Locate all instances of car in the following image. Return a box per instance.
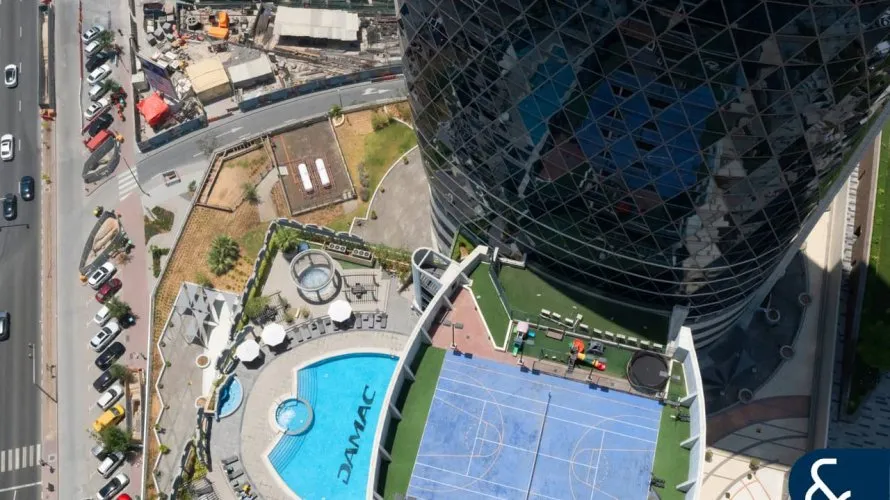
[91,369,114,395]
[84,128,112,151]
[95,454,125,480]
[82,35,106,58]
[20,176,35,203]
[4,64,18,87]
[81,23,103,44]
[95,343,124,370]
[89,324,119,349]
[3,195,17,221]
[0,136,15,161]
[89,113,114,135]
[96,407,123,433]
[85,436,111,463]
[86,97,111,119]
[91,303,115,328]
[95,278,123,303]
[121,489,141,500]
[84,50,108,72]
[87,263,116,290]
[97,473,128,500]
[96,386,123,410]
[85,83,109,103]
[88,63,113,85]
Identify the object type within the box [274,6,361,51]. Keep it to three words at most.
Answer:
shed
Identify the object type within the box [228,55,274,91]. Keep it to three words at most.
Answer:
building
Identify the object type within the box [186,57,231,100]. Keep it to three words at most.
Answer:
building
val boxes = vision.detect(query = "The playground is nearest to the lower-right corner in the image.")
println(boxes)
[564,338,610,373]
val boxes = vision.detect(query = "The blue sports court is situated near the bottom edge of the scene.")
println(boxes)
[406,355,663,500]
